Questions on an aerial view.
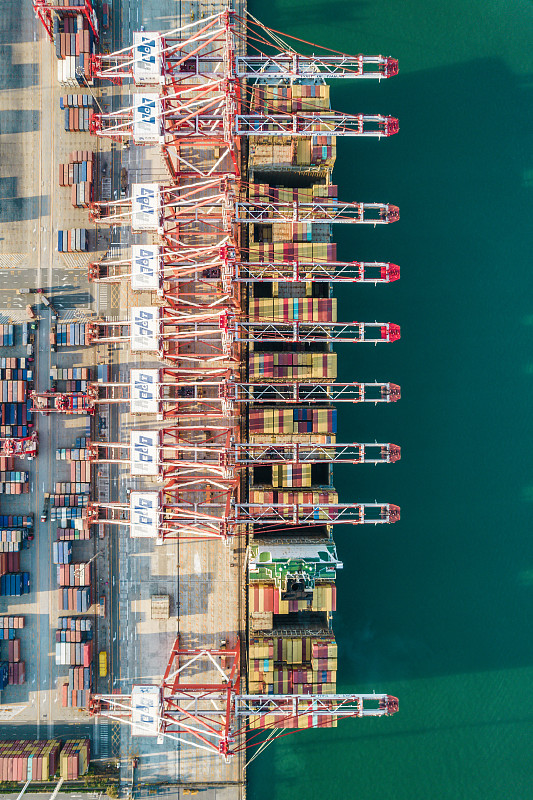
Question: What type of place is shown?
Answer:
port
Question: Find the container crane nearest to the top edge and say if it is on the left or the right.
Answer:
left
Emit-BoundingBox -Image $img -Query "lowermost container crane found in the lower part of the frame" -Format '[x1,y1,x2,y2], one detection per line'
[88,631,399,757]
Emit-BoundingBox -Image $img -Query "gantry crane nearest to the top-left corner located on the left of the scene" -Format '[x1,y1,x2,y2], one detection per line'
[27,0,98,48]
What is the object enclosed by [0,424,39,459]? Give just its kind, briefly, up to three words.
container crane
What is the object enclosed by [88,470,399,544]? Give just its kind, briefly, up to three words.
container crane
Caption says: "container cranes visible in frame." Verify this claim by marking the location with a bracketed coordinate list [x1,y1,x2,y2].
[0,424,39,459]
[27,0,98,48]
[28,384,97,420]
[88,177,399,263]
[88,631,399,757]
[88,77,399,195]
[88,308,399,370]
[88,419,399,481]
[88,243,399,318]
[88,12,399,144]
[88,470,399,544]
[88,367,399,420]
